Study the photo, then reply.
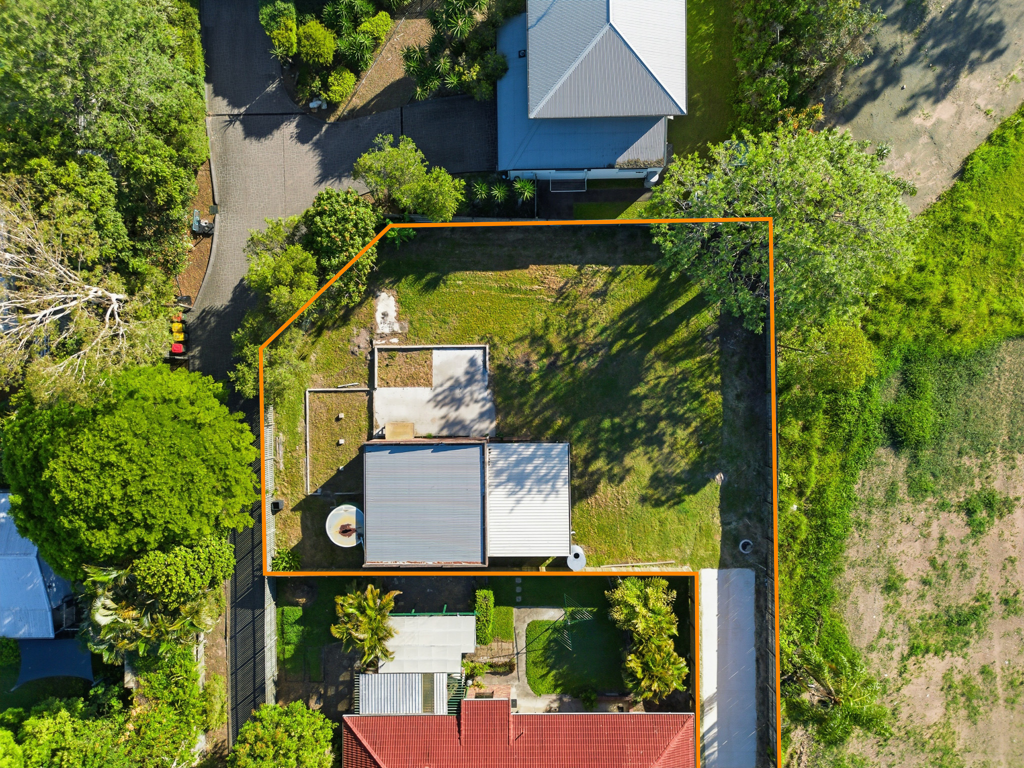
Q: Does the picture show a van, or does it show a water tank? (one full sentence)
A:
This aerial view contains a water tank.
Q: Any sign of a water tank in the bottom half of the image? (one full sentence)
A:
Yes, in the bottom half of the image there is a water tank.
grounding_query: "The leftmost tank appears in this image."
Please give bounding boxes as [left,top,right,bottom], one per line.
[325,499,364,555]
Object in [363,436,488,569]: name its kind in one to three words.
shed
